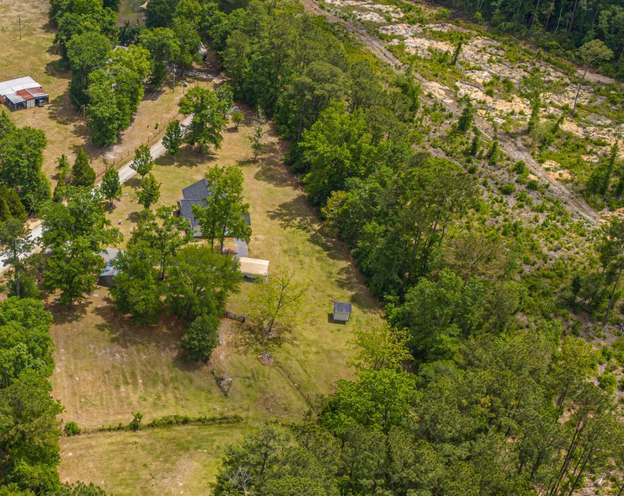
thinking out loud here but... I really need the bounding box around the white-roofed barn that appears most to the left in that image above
[0,77,56,111]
